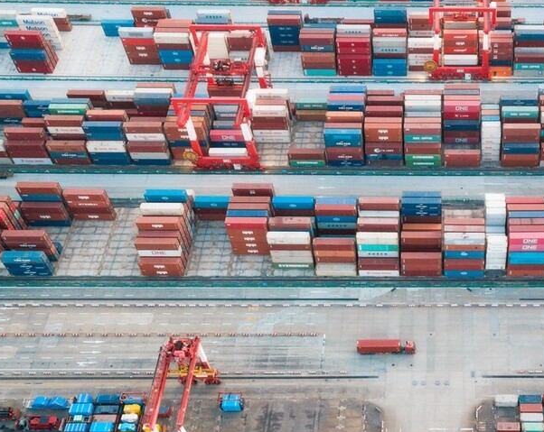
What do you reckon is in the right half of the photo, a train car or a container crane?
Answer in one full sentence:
What appears in the right half of the photo is a container crane.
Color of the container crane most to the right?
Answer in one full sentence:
The container crane most to the right looks red in the image.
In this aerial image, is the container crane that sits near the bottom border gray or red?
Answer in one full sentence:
From above, the container crane that sits near the bottom border appears red.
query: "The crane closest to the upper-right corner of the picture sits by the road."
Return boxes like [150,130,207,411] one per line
[423,0,496,77]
